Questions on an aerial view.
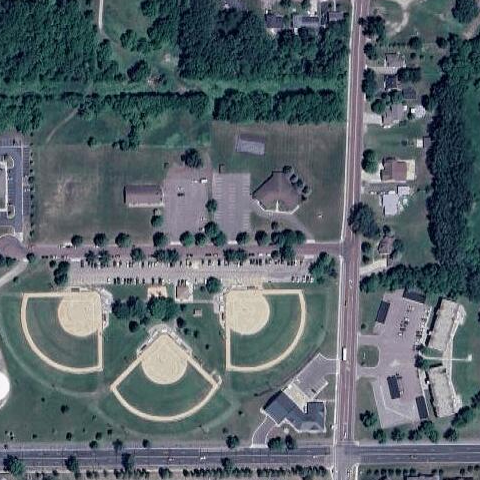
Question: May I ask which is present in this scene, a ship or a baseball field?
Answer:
baseball field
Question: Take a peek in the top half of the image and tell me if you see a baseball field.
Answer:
No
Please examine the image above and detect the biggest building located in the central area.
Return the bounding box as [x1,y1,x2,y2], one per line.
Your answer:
[254,172,302,214]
